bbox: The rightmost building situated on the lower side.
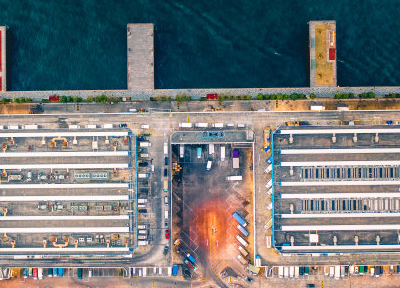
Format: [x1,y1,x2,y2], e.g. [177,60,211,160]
[272,125,400,256]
